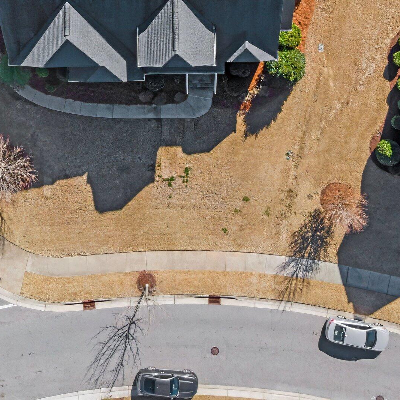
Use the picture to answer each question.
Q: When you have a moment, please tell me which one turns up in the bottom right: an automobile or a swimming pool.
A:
automobile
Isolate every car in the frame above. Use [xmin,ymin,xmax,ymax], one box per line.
[323,314,390,353]
[136,364,201,400]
